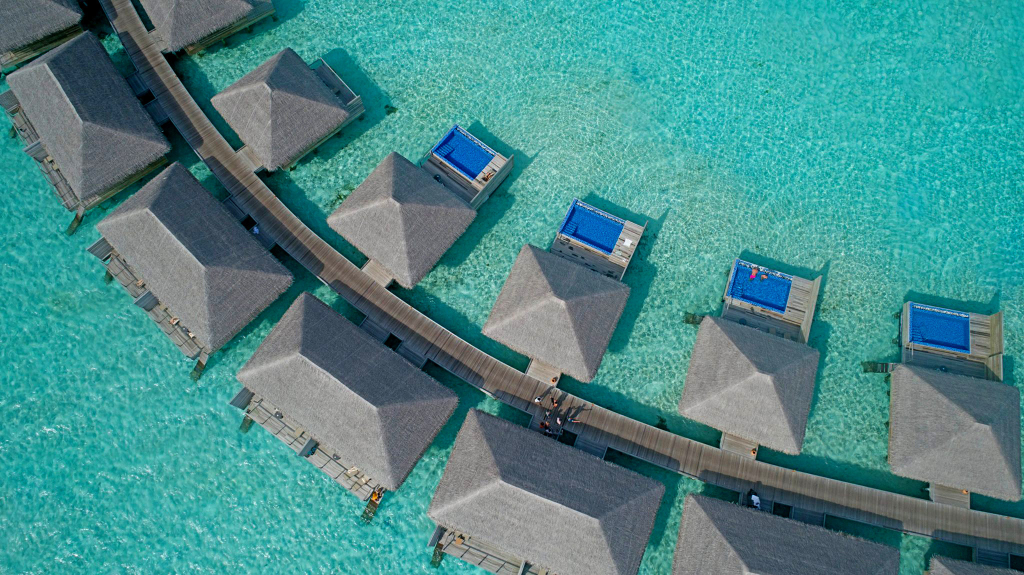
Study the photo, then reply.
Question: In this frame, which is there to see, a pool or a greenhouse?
pool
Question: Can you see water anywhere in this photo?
Yes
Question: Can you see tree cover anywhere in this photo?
No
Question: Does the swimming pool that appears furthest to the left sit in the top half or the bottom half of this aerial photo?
top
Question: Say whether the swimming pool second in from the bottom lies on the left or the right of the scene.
right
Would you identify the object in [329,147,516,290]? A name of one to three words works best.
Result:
house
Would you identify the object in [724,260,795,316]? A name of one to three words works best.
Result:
swimming pool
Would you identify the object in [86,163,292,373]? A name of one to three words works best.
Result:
house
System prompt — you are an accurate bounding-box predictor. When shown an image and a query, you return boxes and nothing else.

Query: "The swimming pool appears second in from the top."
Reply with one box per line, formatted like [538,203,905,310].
[557,199,625,255]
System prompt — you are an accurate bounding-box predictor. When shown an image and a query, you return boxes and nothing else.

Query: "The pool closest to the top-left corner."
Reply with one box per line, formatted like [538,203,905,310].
[432,125,500,183]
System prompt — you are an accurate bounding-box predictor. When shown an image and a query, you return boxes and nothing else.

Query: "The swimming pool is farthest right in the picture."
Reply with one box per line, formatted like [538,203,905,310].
[902,300,971,354]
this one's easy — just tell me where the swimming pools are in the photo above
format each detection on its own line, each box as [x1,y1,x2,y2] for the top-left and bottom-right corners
[724,260,795,316]
[557,199,625,255]
[902,300,971,354]
[432,125,500,183]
